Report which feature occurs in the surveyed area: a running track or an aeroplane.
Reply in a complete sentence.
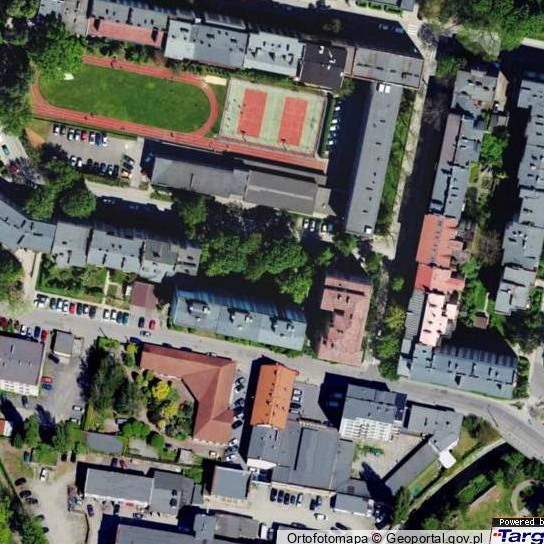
This aerial view contains a running track.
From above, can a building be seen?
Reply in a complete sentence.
Yes, a building appears in the view.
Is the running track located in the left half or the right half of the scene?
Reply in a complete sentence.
The running track sits on the left side.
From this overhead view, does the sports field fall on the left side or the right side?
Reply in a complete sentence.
It is on the left.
